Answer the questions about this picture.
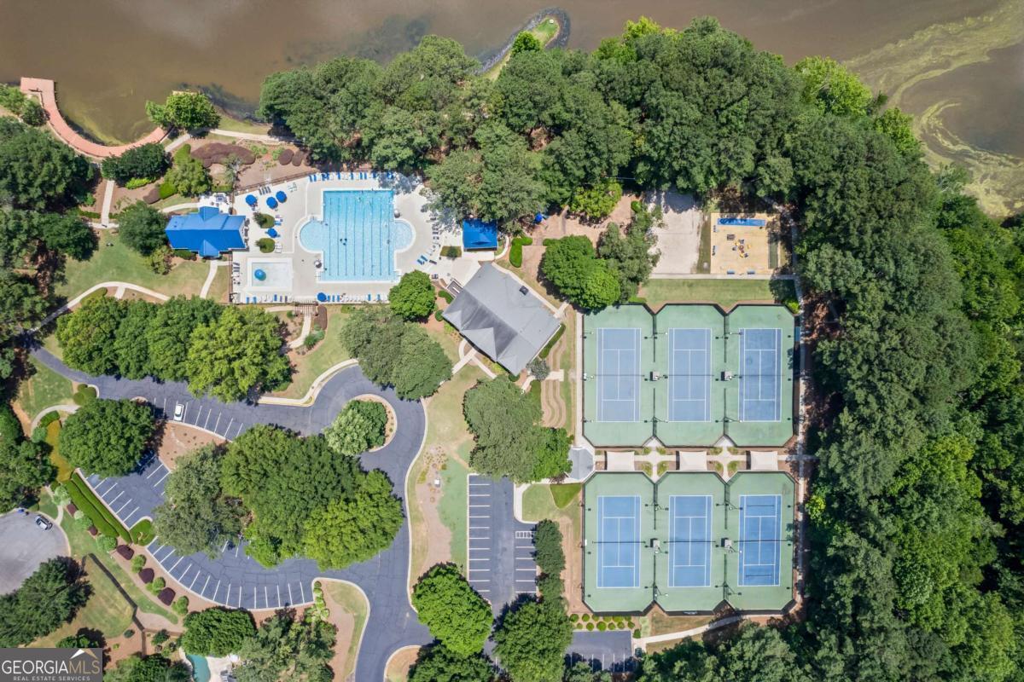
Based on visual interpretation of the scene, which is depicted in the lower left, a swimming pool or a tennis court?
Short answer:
swimming pool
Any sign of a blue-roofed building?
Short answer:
Yes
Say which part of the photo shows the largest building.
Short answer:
center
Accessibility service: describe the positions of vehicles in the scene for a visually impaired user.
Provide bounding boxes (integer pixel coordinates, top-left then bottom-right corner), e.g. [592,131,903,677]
[32,514,52,531]
[172,402,184,421]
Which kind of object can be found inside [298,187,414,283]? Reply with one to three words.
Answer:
swimming pool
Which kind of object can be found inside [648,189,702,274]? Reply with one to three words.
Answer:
sports court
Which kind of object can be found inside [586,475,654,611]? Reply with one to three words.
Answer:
tennis court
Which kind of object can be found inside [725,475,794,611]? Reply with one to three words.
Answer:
tennis court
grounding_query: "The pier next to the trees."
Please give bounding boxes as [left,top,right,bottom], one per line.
[18,75,167,158]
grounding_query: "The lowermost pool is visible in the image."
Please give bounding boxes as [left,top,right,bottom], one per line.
[185,651,211,682]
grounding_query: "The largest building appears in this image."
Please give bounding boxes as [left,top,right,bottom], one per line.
[442,260,561,376]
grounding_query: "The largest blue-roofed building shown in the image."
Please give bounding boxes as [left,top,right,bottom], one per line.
[164,205,248,257]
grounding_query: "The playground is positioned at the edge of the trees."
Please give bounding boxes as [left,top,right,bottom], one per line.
[711,213,769,274]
